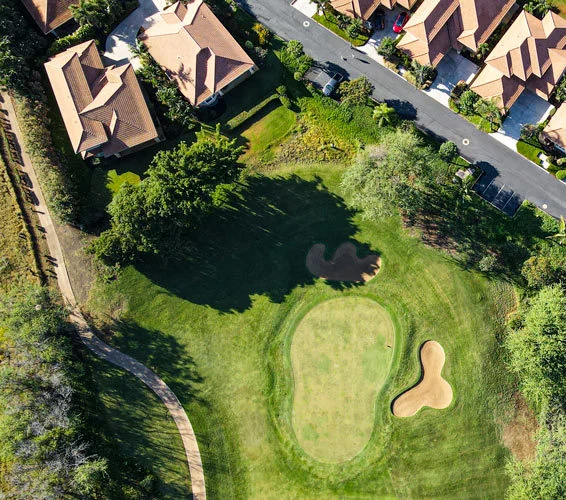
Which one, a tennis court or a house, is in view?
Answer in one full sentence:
It is a house that can be seen here.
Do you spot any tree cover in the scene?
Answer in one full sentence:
Yes, some tree cover is visible.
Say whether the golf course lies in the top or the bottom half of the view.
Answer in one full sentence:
It is in the bottom half that the golf course appears.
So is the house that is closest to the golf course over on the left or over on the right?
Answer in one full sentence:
You can find the house that is closest to the golf course on the left side of the picture.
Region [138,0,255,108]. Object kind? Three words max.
house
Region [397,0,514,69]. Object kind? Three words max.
house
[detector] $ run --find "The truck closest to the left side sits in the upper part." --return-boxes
[322,70,344,97]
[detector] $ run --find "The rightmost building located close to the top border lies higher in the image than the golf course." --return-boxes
[470,10,566,113]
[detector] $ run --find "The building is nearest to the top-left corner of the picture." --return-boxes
[26,0,84,37]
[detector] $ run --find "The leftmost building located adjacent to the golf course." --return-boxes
[45,40,159,157]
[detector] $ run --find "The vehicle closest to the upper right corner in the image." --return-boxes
[392,11,410,34]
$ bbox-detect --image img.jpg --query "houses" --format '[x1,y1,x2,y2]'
[397,0,514,69]
[45,40,159,157]
[138,0,255,108]
[470,10,566,113]
[318,0,417,20]
[26,0,84,37]
[540,104,566,158]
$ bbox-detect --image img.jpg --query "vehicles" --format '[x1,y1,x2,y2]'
[392,11,410,34]
[322,70,344,97]
[373,8,386,33]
